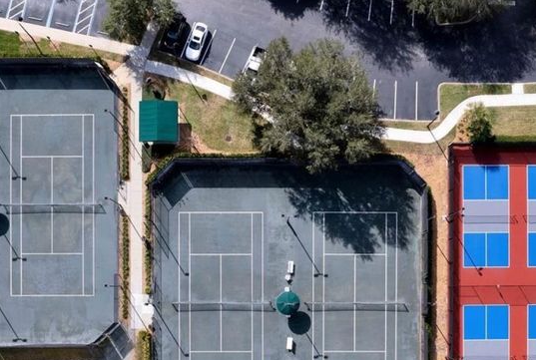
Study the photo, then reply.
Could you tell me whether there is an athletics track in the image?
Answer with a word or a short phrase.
No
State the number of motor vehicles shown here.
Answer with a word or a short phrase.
three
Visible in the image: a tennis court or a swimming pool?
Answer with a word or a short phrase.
tennis court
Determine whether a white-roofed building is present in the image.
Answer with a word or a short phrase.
No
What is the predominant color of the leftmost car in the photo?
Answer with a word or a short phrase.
black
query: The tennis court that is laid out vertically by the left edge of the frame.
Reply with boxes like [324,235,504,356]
[0,66,119,346]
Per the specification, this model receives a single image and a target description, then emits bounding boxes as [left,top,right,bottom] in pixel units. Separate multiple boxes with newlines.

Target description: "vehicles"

[243,42,269,70]
[159,14,185,54]
[185,20,210,61]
